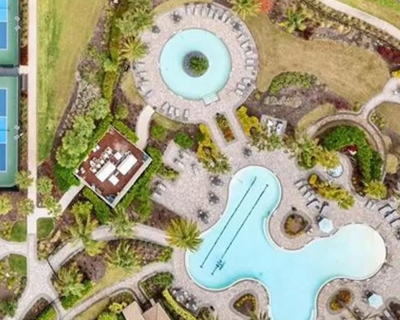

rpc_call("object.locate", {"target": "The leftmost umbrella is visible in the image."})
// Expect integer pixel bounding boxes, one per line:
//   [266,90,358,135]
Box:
[318,217,333,232]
